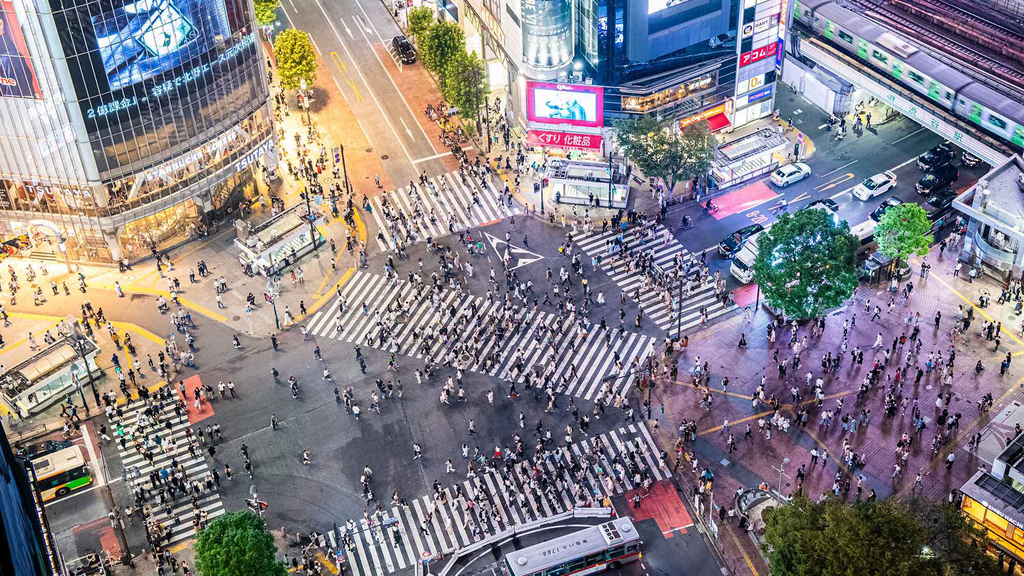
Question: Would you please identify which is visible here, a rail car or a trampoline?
rail car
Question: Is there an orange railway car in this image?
No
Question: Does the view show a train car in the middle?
No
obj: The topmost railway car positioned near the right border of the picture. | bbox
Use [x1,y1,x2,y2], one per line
[813,0,977,117]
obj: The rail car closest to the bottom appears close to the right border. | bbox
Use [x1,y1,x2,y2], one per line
[954,78,1024,162]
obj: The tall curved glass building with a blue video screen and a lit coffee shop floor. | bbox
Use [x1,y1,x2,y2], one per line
[0,0,296,264]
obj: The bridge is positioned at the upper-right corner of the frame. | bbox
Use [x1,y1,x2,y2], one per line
[783,0,1024,176]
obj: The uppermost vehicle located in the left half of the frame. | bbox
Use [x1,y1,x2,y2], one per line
[390,25,416,58]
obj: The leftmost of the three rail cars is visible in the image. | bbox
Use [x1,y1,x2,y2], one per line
[787,0,818,31]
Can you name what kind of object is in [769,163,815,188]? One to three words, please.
car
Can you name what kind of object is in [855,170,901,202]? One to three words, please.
car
